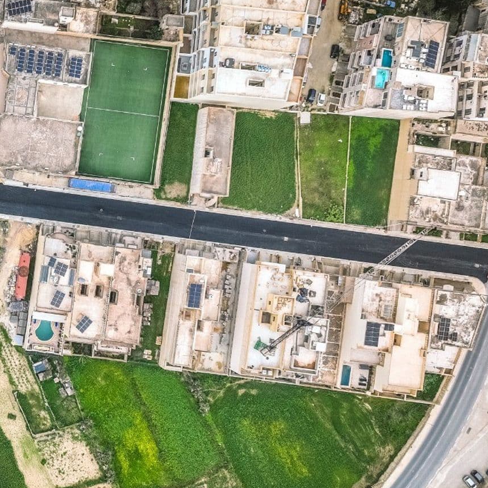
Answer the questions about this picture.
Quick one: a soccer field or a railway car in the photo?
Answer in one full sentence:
This aerial view contains a soccer field.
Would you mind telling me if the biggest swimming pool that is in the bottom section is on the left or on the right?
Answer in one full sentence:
It is on the left.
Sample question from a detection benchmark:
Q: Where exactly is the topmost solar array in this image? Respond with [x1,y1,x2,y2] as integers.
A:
[6,0,33,13]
